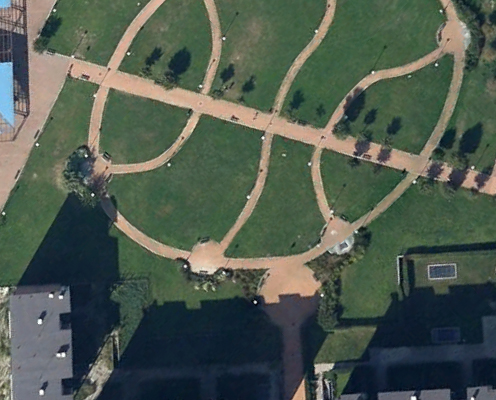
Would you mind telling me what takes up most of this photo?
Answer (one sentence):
What you mostly see from above here is grass.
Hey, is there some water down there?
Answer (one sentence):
No, there's no water in this view.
